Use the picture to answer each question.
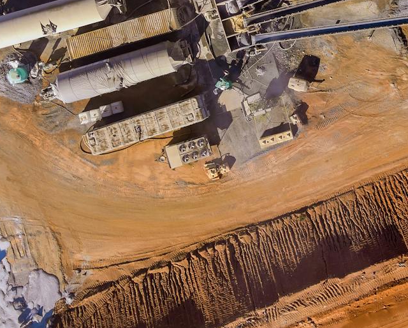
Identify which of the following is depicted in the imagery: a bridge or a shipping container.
shipping container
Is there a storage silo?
Yes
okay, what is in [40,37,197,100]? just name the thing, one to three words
silo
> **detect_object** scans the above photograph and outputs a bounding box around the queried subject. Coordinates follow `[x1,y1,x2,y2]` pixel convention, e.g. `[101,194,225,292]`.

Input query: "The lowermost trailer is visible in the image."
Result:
[85,94,215,156]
